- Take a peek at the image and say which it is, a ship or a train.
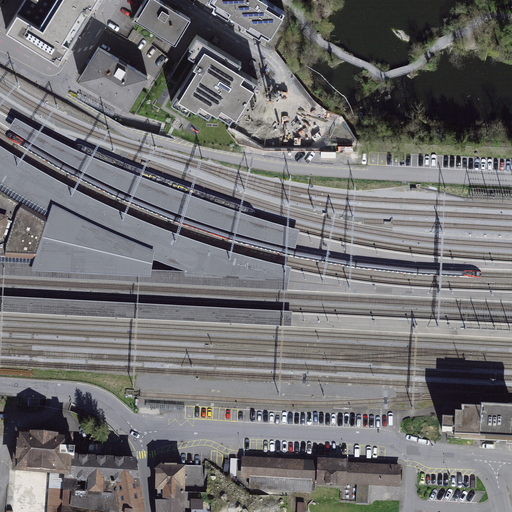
train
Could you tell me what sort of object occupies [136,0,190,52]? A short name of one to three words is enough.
building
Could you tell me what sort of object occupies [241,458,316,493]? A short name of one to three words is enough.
shed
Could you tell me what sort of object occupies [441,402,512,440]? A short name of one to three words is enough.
building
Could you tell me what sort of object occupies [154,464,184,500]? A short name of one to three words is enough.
house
